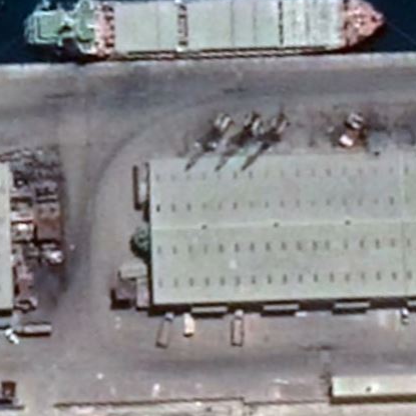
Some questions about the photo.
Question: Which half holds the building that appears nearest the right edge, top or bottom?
bottom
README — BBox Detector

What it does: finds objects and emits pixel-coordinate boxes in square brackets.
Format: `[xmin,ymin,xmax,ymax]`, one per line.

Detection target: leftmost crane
[192,112,231,156]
